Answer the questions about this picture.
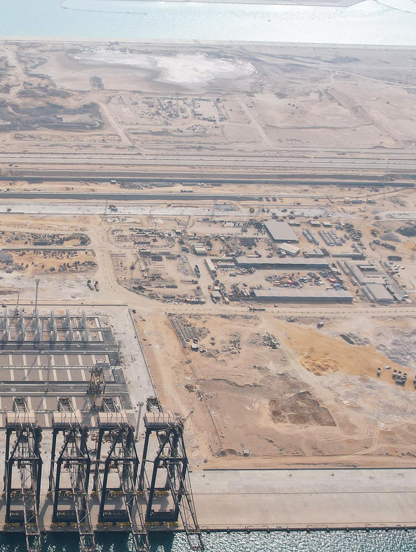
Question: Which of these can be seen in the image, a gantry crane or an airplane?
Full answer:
The image shows a gantry crane.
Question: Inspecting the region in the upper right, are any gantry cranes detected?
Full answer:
No, I see no gantry crane in the upper right.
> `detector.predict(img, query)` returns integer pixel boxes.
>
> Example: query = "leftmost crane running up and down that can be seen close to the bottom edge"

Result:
[2,395,45,552]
